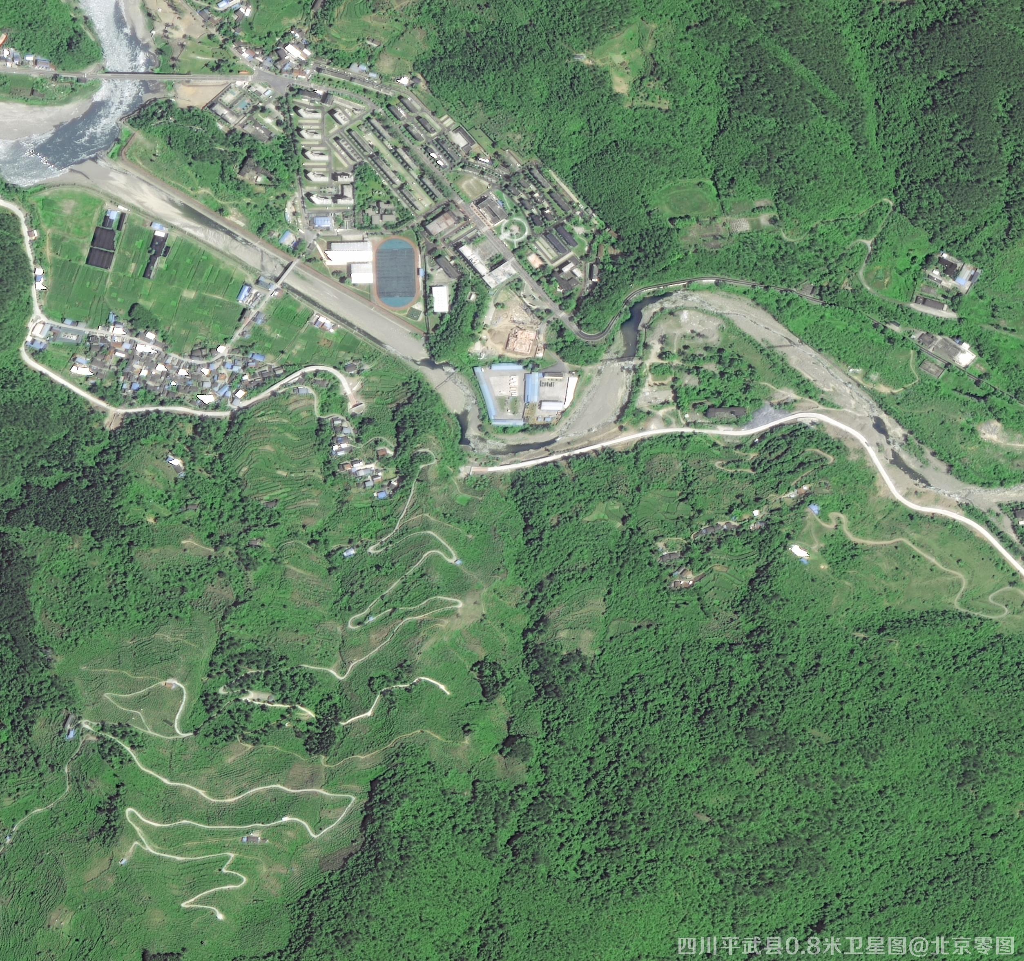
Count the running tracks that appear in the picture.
1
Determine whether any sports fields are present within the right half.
No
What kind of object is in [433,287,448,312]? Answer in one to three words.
building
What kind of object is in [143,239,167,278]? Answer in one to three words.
house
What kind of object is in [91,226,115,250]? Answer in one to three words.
house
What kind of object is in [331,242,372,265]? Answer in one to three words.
building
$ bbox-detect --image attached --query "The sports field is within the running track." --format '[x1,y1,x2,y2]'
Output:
[376,248,415,296]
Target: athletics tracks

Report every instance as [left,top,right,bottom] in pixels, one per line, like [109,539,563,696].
[372,235,420,309]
